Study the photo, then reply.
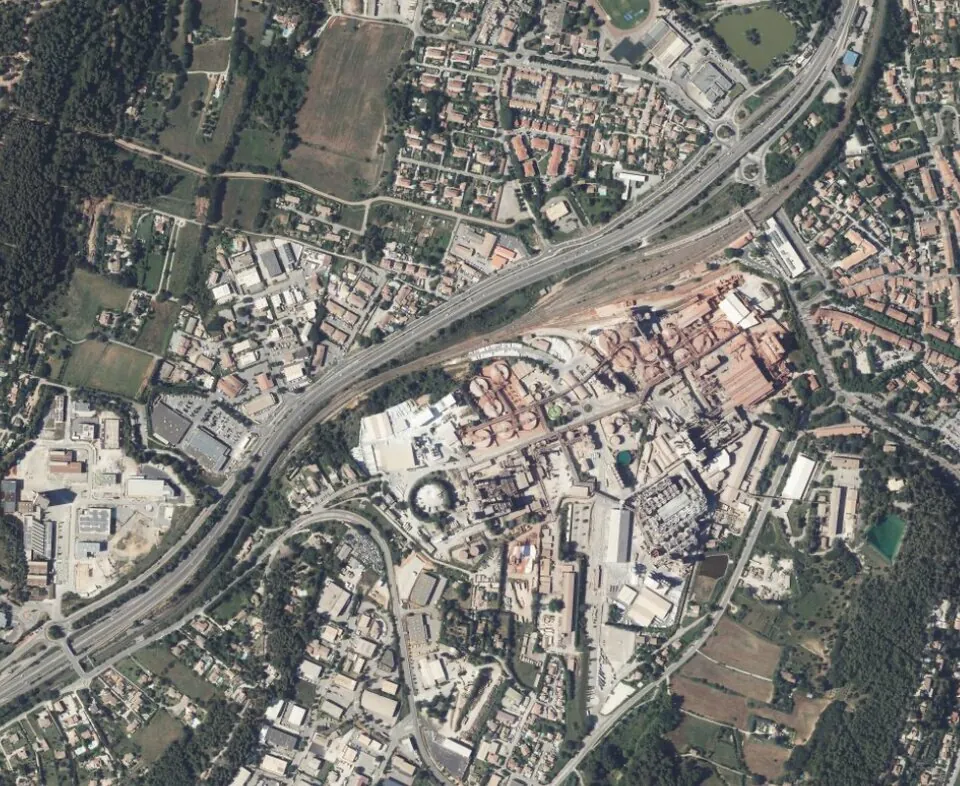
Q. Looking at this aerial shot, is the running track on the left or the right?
right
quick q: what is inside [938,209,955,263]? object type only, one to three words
building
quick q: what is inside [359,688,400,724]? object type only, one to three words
shed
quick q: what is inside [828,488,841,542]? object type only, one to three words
shed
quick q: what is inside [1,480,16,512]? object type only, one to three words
building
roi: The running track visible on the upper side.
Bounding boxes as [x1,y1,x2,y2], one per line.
[594,0,660,37]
